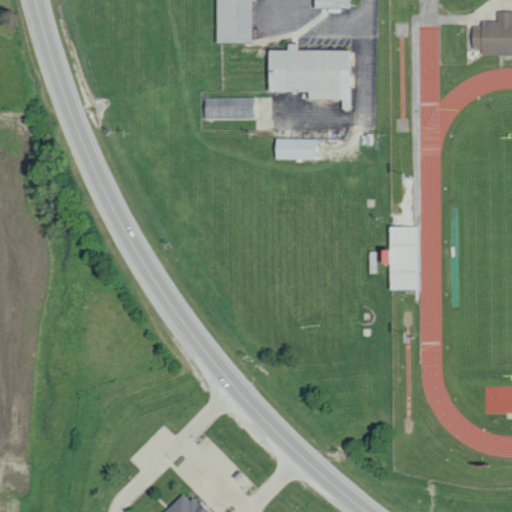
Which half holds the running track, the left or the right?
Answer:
right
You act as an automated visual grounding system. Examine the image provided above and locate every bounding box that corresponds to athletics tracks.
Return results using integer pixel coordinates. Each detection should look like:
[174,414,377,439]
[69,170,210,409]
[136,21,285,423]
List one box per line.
[420,27,512,456]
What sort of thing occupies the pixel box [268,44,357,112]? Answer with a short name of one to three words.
building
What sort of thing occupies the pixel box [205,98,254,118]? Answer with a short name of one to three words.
greenhouse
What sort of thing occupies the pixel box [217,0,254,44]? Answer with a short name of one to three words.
barn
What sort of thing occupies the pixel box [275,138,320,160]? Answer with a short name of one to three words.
shed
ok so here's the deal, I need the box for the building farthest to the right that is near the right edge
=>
[472,10,512,54]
